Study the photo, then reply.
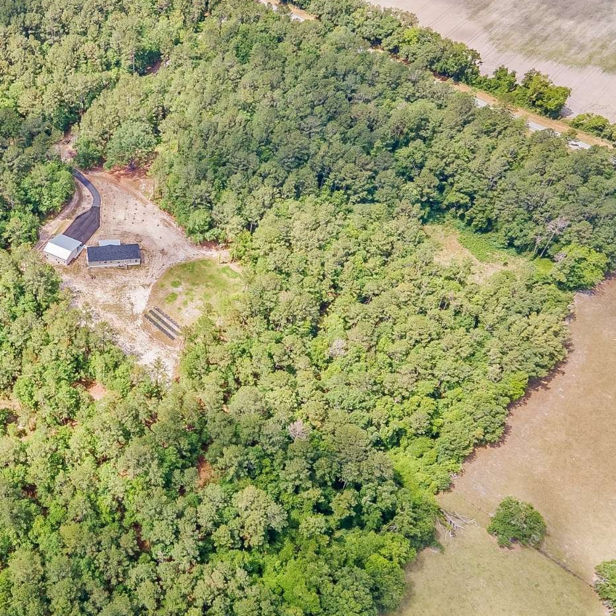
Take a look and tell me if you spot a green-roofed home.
No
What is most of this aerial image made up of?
trees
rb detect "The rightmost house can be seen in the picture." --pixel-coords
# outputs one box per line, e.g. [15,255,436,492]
[87,237,142,270]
